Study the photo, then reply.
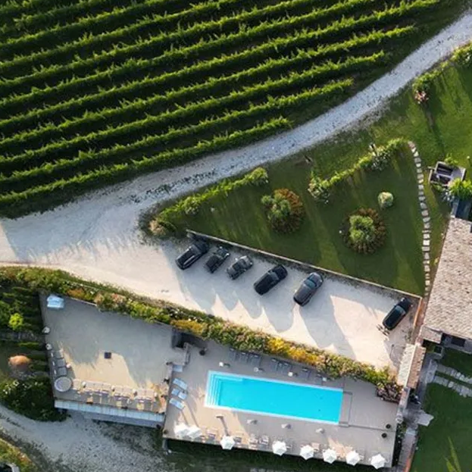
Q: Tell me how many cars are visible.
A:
6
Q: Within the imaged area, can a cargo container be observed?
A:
No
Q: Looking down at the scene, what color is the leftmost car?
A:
black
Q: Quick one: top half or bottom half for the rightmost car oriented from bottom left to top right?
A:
bottom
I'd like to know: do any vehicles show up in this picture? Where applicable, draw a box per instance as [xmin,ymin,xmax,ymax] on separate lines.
[291,271,326,307]
[174,240,213,273]
[223,254,257,282]
[378,295,414,332]
[200,245,234,274]
[251,263,291,297]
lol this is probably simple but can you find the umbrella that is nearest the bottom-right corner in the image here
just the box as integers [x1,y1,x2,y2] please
[371,454,387,468]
